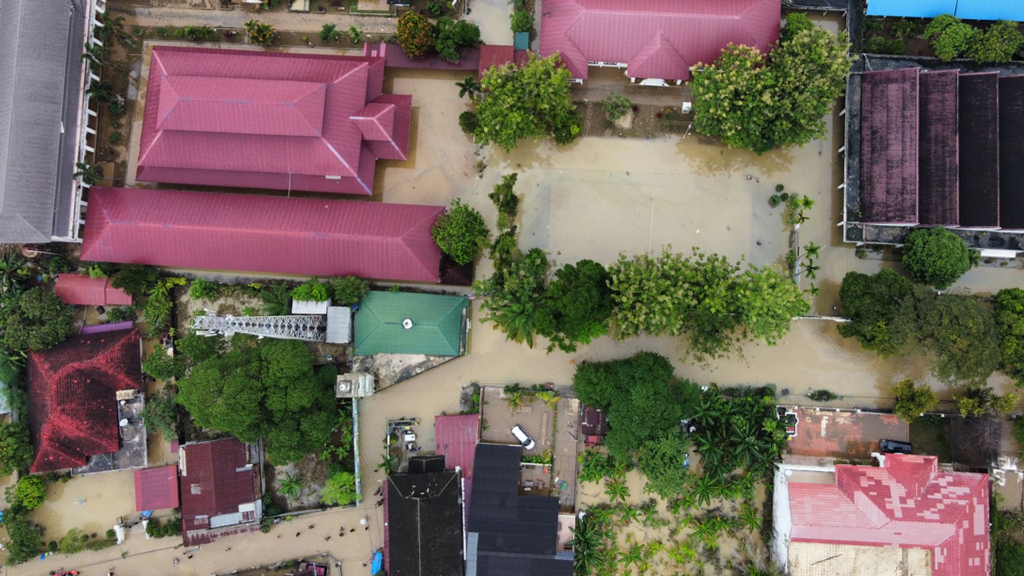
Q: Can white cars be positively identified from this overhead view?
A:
Yes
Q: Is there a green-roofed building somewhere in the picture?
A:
Yes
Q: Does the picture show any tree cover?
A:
Yes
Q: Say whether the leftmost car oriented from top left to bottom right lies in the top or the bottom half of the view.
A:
bottom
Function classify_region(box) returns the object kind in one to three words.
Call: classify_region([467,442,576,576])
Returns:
house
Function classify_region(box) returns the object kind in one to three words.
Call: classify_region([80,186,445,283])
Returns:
building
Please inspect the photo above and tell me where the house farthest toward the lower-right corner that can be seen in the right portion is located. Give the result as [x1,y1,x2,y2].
[772,452,990,576]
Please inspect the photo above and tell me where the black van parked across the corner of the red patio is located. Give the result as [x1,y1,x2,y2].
[875,436,915,454]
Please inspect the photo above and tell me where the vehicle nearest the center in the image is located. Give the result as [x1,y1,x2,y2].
[508,422,537,452]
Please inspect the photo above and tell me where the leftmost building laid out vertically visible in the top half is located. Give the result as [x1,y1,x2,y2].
[0,0,111,244]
